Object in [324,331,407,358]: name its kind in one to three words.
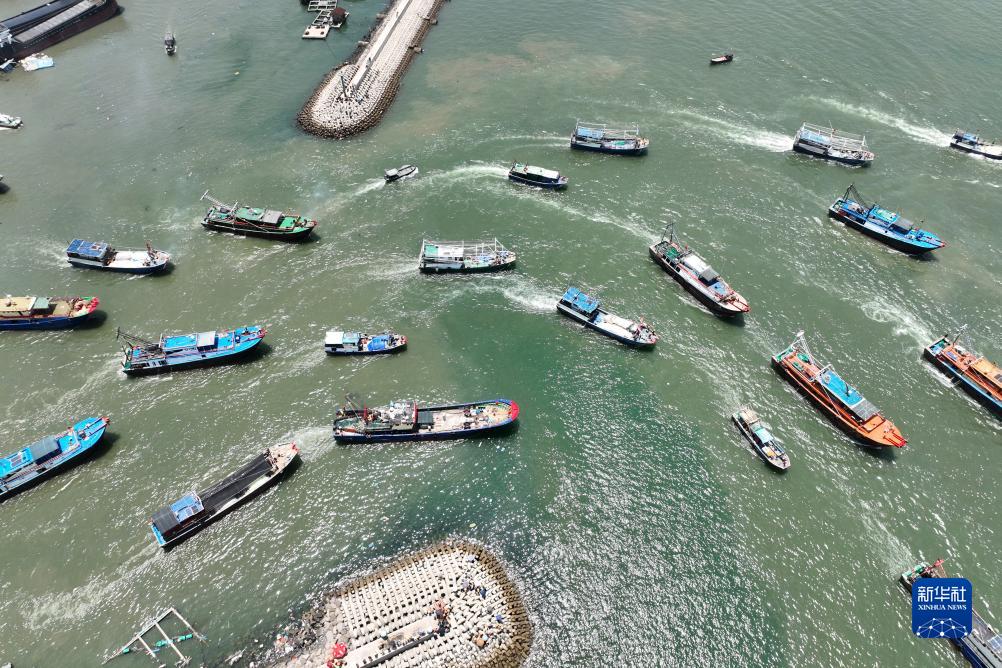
boat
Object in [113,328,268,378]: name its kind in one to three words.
boat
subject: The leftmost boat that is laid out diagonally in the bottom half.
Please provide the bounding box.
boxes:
[0,417,114,509]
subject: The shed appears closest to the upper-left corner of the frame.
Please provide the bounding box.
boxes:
[330,9,350,26]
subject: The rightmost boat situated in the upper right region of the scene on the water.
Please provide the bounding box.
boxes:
[949,133,1002,162]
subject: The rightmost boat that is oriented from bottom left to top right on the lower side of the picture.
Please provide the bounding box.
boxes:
[152,447,301,549]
